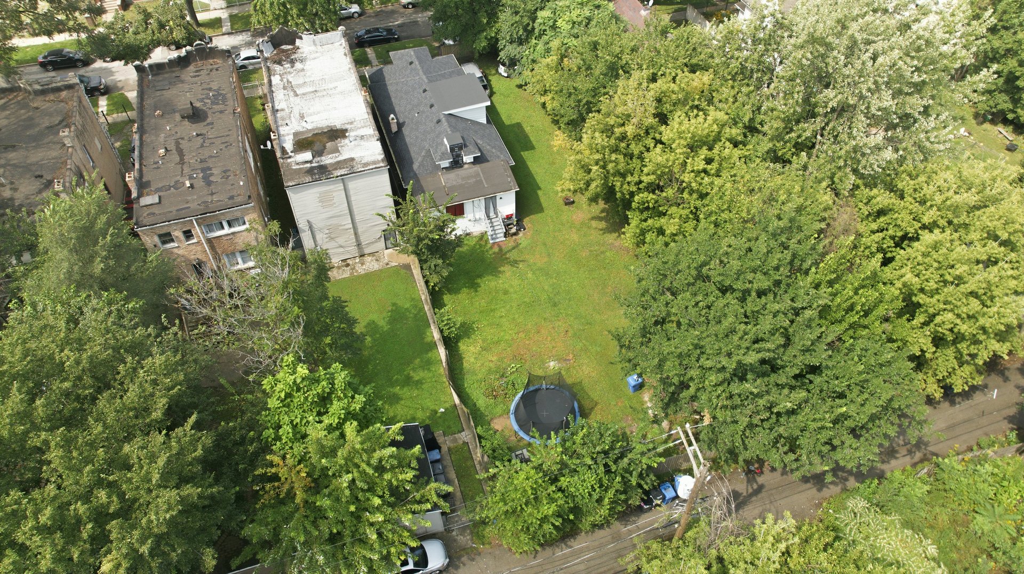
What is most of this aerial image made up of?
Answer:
trees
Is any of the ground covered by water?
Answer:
No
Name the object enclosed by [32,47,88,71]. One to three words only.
car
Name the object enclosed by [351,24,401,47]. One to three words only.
car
